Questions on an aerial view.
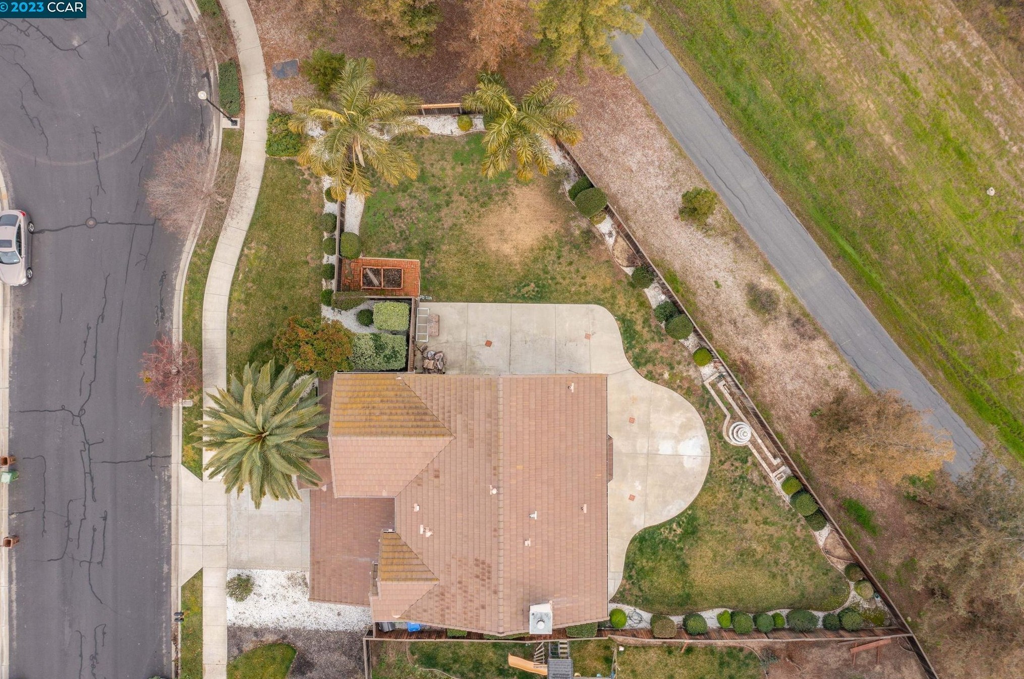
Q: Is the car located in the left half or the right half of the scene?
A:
left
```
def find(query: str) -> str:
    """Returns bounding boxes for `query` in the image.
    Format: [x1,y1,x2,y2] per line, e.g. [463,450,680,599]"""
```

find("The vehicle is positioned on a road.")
[0,209,34,286]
